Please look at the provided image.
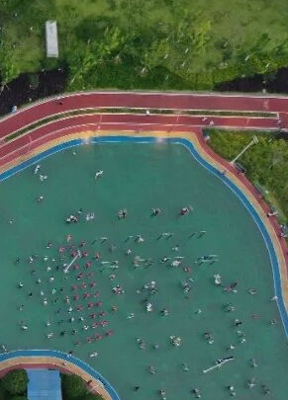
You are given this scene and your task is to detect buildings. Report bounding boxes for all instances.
[42,22,58,66]
[23,370,62,400]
